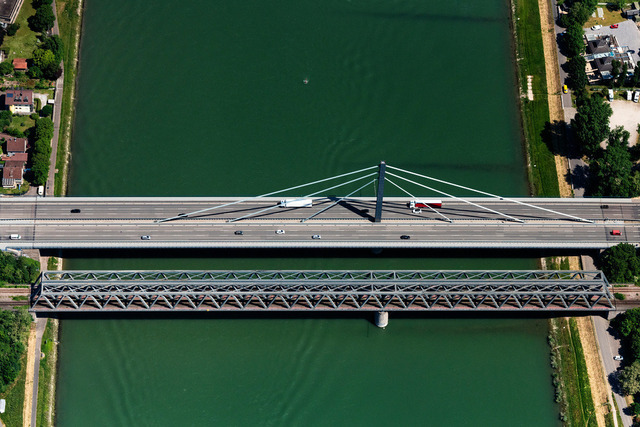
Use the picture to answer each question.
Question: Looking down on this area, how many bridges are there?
2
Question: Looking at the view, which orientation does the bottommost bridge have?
from left to right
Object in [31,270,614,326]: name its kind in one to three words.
bridge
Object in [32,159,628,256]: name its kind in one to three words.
bridge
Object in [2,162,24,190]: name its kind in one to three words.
house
